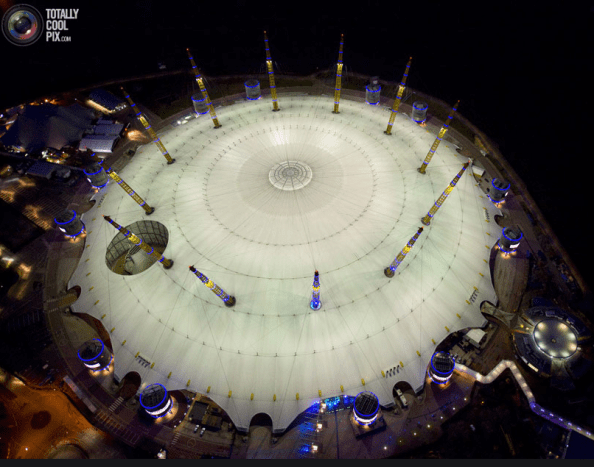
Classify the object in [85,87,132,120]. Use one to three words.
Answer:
shed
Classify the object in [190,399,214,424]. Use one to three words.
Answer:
building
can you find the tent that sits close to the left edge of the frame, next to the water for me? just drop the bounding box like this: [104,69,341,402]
[0,100,94,164]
